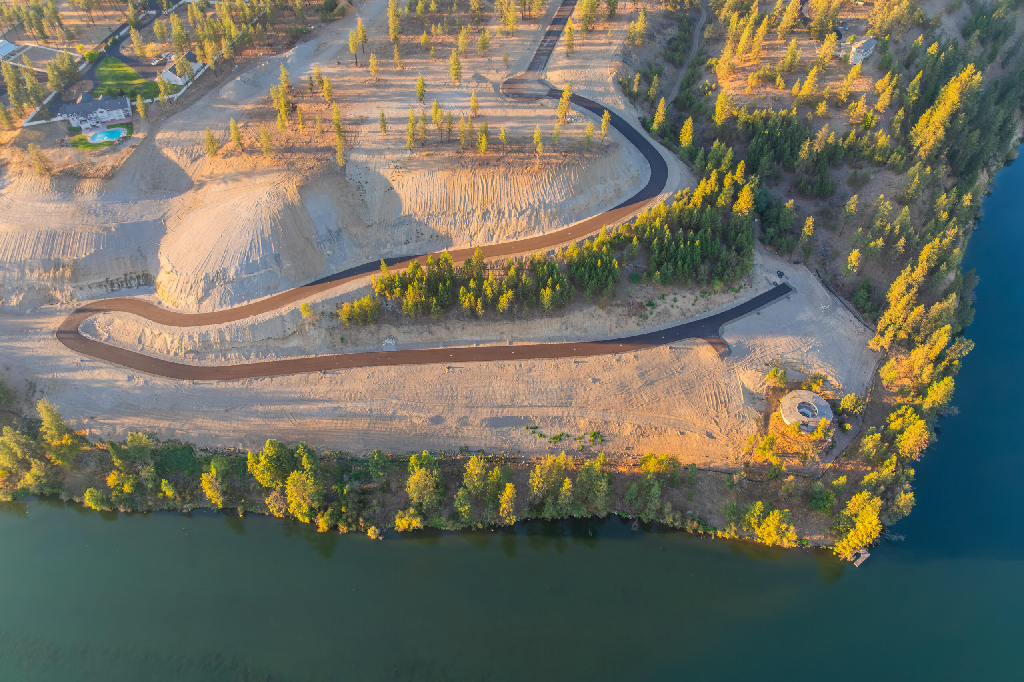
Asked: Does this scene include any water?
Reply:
Yes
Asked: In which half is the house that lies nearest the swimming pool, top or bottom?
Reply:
top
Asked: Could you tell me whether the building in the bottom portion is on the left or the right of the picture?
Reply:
right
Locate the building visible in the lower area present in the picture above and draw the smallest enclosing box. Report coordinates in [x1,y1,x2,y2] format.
[780,389,836,437]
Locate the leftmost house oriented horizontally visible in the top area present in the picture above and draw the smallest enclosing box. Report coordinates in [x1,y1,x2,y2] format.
[48,80,148,131]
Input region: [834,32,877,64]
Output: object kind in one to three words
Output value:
house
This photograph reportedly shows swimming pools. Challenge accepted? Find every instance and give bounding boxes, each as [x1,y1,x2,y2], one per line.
[81,126,128,144]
